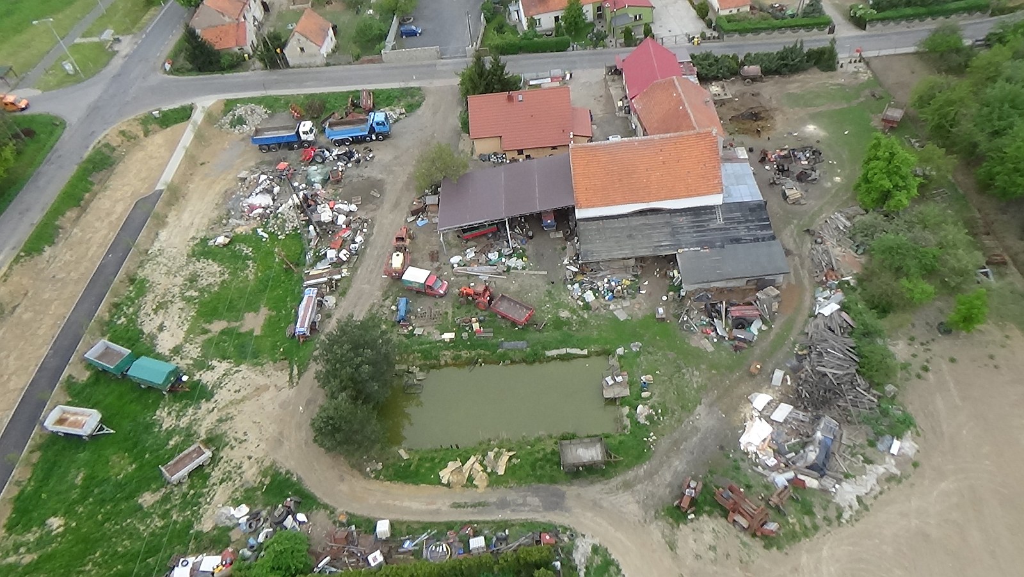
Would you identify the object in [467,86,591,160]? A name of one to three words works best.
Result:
house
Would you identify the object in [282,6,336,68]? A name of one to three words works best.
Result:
shed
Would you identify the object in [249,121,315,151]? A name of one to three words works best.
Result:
truck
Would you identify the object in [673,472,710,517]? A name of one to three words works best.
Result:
work vehicle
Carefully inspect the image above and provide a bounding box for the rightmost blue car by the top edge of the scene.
[400,24,420,36]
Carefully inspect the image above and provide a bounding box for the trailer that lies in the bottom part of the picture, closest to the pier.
[558,439,623,474]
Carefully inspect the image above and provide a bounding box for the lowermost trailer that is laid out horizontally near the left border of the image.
[49,407,108,437]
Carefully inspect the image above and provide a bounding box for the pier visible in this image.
[602,357,629,402]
